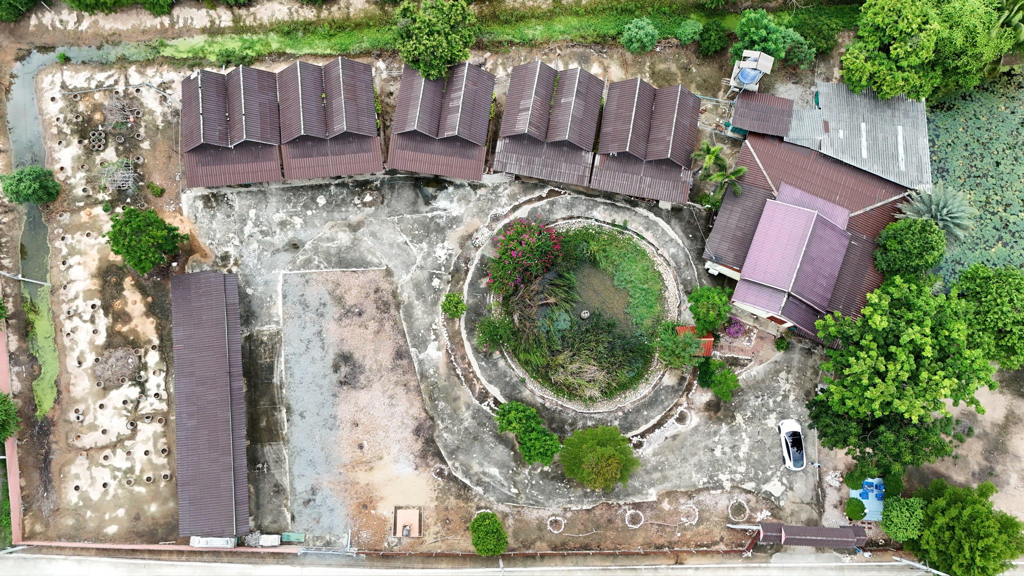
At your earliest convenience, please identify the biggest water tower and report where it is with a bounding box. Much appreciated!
[718,50,774,104]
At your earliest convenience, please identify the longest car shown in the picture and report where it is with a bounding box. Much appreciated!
[774,419,805,473]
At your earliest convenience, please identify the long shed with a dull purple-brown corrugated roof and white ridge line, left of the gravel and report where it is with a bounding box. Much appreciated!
[170,271,251,538]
